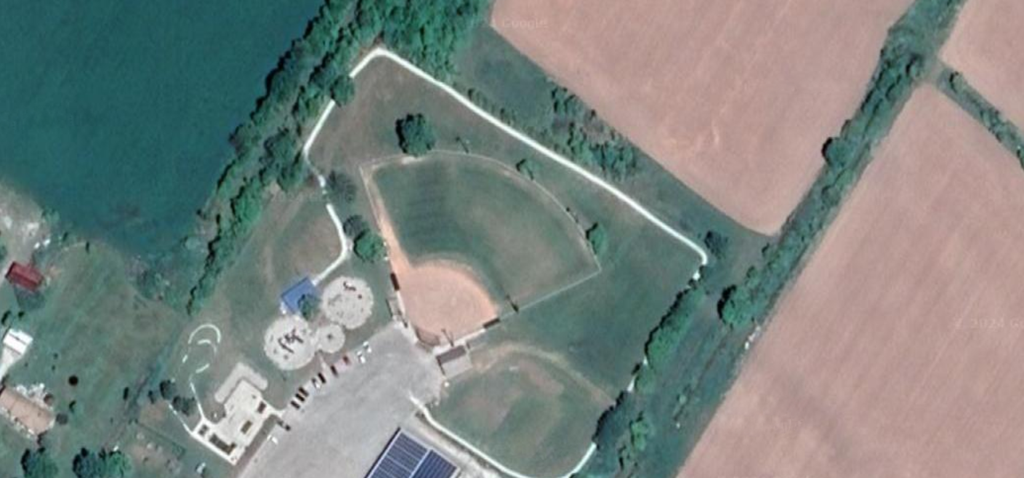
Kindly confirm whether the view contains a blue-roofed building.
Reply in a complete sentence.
Yes, the frame does contain a blue-roofed building.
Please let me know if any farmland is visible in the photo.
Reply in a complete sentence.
Yes, farmland shows up in the scene.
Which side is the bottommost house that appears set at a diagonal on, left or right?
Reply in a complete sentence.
You can find the bottommost house that appears set at a diagonal on the left side of the picture.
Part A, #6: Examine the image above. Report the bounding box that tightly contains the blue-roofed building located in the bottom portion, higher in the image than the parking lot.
[281,277,320,315]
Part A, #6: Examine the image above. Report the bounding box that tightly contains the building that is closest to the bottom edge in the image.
[369,431,460,478]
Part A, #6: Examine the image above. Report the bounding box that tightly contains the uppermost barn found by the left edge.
[6,261,43,293]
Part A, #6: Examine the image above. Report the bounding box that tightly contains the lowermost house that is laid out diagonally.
[0,385,55,434]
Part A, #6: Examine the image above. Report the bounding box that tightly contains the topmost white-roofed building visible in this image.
[2,329,32,356]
